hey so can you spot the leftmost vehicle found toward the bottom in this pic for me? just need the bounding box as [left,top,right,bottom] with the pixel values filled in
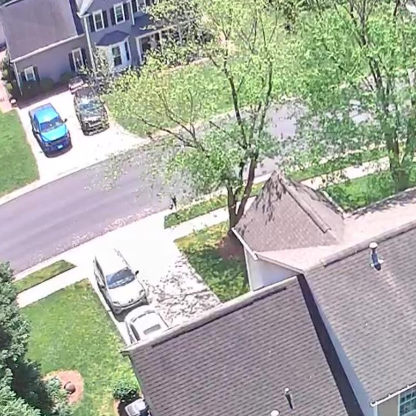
[89,249,142,310]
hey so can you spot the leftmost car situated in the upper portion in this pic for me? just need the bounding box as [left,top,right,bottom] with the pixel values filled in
[21,93,71,151]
